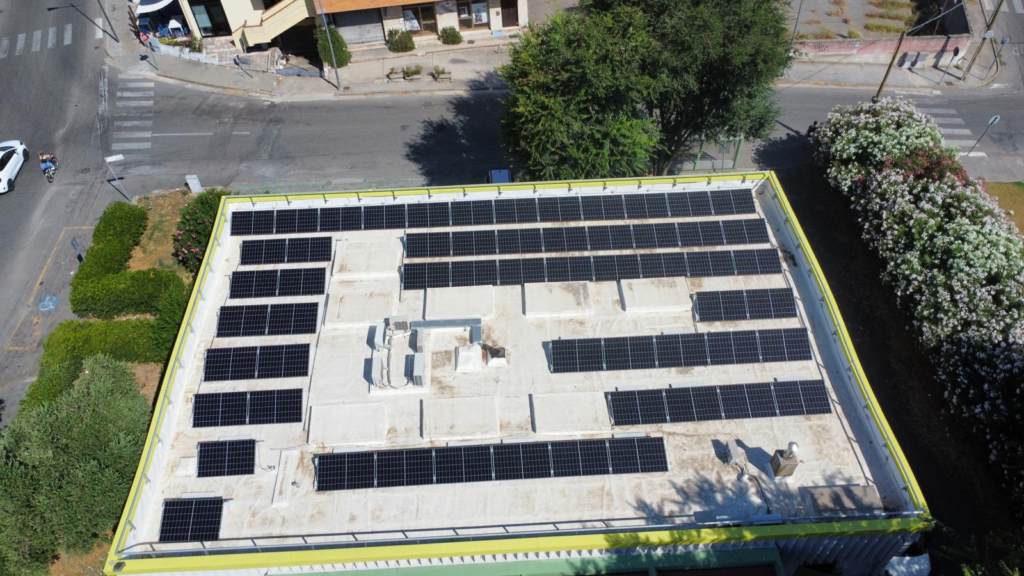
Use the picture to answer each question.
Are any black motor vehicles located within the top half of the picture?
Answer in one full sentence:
Yes, looking within the top half of the picture, one can make out a black motor vehicle.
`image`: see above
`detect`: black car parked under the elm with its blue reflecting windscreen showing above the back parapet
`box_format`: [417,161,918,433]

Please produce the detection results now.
[485,152,517,184]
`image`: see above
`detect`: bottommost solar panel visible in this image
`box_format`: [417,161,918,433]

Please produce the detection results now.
[158,496,230,543]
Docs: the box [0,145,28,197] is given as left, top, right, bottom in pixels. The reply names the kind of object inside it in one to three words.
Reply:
car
